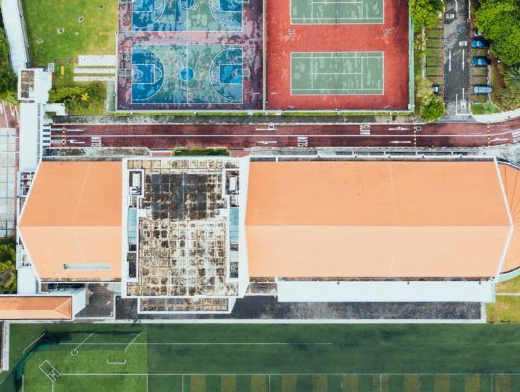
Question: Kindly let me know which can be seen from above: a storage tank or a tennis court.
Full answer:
This aerial view contains a tennis court.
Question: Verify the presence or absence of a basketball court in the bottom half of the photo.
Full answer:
No, I see no basketball court in the bottom half of the photo.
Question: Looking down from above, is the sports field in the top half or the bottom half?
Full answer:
You can find the sports field in the bottom half.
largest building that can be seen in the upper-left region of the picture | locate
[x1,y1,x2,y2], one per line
[18,70,62,102]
